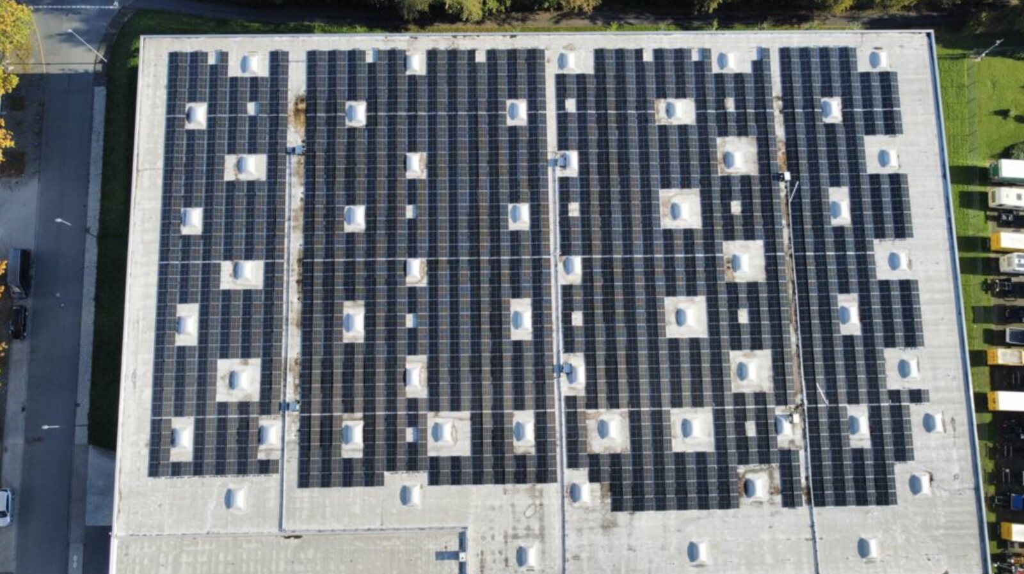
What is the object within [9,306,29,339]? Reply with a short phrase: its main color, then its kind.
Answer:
black car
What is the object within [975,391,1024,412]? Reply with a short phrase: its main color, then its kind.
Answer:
white truck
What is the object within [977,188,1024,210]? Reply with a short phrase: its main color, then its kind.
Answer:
white camper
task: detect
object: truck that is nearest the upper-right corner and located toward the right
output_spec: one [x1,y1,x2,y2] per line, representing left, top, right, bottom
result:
[975,159,1024,183]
